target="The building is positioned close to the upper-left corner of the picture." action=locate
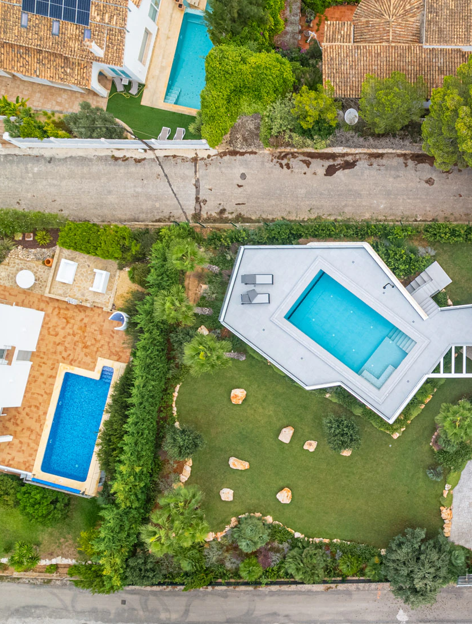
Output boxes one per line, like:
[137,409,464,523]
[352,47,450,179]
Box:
[0,0,163,97]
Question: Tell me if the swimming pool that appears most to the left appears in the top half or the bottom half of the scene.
bottom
